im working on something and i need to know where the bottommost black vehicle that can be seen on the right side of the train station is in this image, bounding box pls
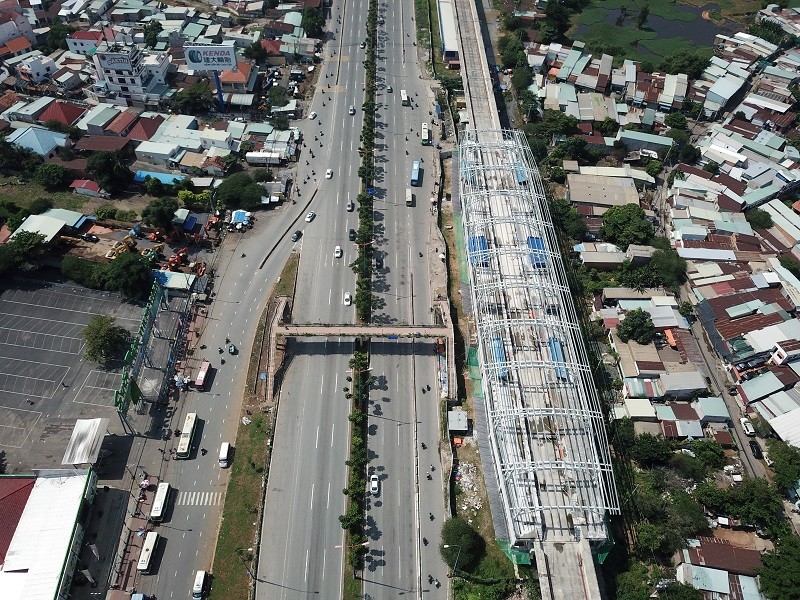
[746,438,763,459]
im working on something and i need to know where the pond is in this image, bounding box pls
[564,0,749,74]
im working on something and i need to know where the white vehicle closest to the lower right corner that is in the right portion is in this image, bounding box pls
[740,417,757,438]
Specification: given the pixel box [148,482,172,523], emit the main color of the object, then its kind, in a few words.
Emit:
white bus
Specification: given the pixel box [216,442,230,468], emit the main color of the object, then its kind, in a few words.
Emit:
white vehicle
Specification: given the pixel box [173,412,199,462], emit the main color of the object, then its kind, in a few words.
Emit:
white bus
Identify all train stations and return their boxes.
[452,120,624,575]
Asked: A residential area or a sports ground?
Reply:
residential area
